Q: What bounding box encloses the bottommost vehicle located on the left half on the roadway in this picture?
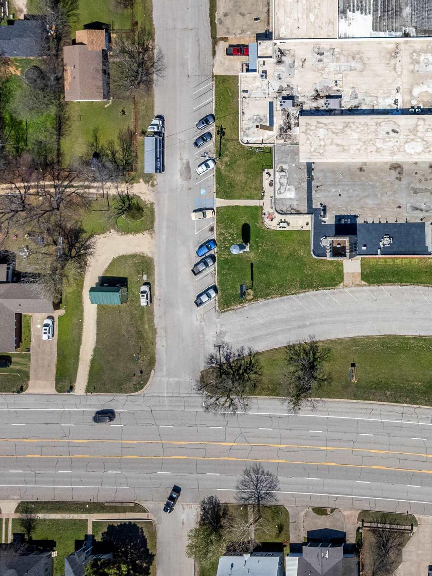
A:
[164,485,181,511]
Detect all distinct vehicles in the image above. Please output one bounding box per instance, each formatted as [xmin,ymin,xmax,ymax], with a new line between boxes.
[42,319,55,340]
[193,286,218,307]
[164,485,181,511]
[193,133,214,149]
[192,209,214,219]
[196,159,216,175]
[144,117,163,173]
[0,358,11,367]
[191,256,216,275]
[93,412,115,423]
[225,44,249,56]
[140,284,151,304]
[196,115,216,131]
[194,240,219,257]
